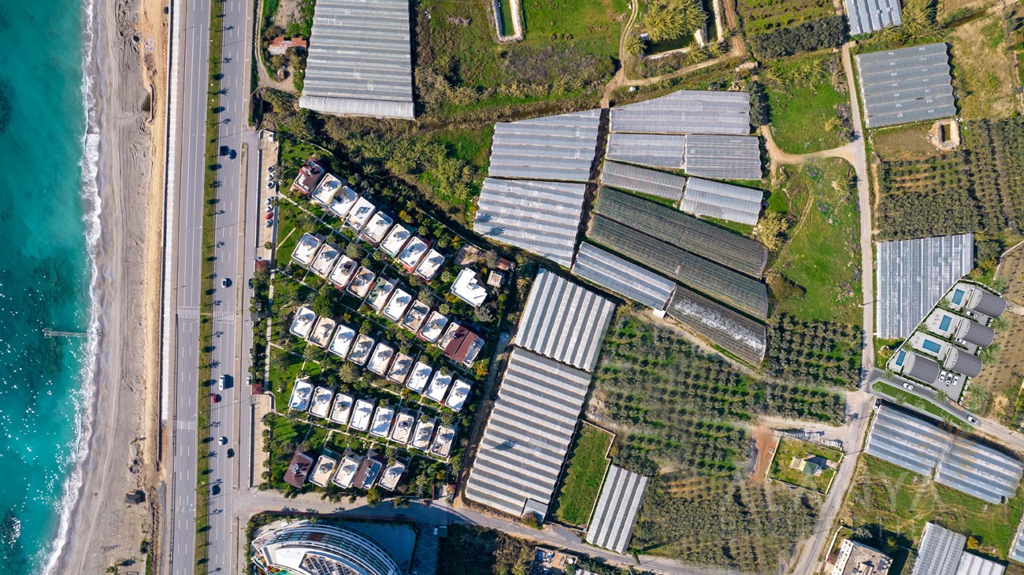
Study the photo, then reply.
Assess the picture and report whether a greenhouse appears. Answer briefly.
Yes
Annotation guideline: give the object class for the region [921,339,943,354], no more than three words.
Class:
swimming pool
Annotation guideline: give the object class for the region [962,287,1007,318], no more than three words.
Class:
house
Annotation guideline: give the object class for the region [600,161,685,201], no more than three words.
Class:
greenhouse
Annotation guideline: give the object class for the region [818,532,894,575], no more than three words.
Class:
building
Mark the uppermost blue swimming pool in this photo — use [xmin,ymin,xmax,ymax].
[951,288,966,306]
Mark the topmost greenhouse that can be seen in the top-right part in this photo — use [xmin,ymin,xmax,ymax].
[844,0,902,37]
